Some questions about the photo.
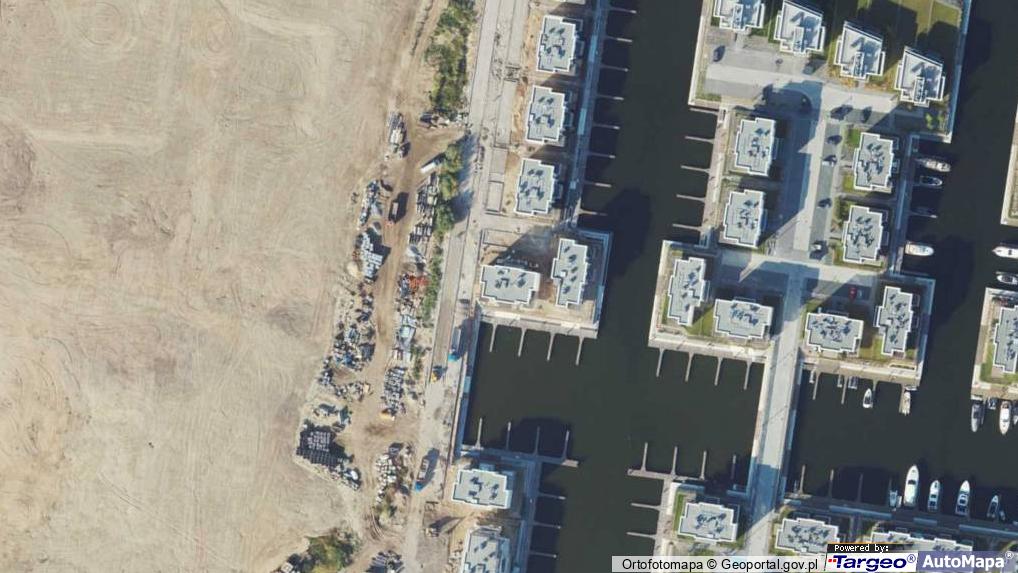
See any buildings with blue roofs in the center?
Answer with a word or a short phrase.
No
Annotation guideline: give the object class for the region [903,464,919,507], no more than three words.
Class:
boat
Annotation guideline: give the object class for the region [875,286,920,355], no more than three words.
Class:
house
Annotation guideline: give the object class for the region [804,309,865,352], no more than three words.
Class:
house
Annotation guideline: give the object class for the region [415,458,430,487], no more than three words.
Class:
vehicle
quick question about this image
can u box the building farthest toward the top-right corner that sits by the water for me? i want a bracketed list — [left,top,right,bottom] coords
[893,47,947,104]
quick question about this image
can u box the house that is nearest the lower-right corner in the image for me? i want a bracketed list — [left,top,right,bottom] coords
[918,536,977,573]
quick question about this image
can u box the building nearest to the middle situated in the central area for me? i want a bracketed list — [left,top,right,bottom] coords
[480,262,540,304]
